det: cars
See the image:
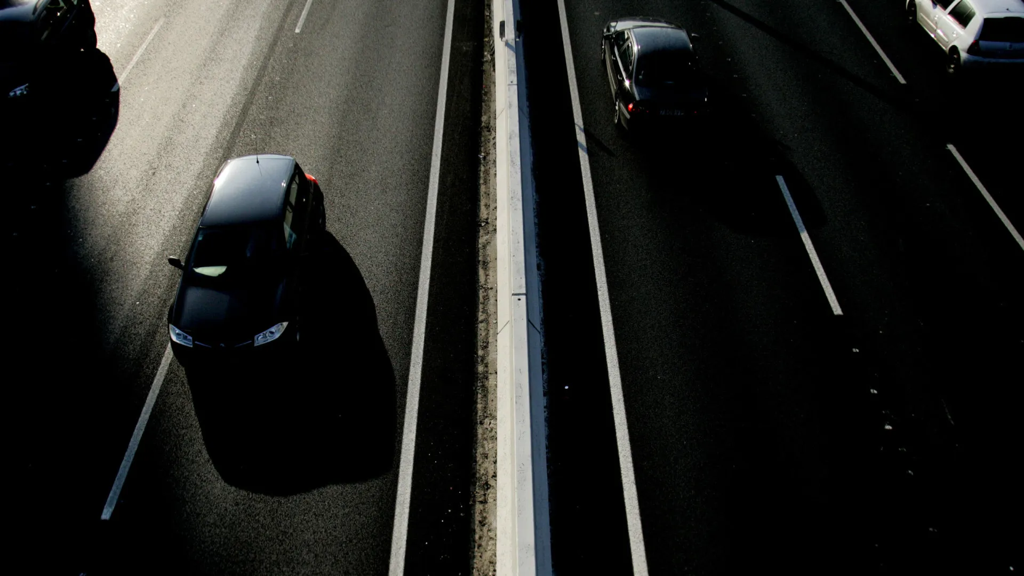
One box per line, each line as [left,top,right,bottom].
[167,132,327,363]
[0,0,96,114]
[603,23,711,138]
[911,0,1024,74]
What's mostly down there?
paved ground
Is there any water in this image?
No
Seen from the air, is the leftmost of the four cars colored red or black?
black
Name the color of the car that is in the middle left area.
black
